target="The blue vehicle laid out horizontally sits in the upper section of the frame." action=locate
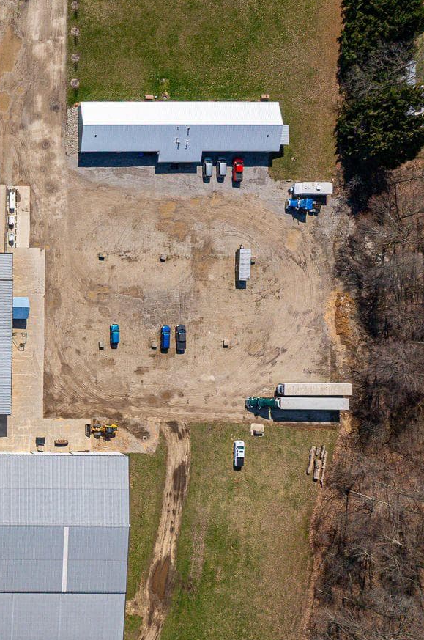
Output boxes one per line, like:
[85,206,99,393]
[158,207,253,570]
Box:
[283,199,319,212]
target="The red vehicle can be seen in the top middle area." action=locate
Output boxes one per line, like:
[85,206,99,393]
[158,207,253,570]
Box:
[230,156,243,182]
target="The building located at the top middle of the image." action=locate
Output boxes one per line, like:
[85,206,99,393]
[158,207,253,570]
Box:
[77,101,287,164]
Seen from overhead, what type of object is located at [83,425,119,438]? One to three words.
vehicle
